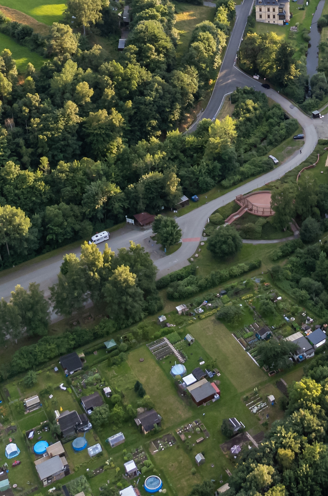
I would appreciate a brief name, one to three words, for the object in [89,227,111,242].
vehicle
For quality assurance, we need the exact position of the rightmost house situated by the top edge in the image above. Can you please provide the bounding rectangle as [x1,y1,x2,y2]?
[254,0,289,24]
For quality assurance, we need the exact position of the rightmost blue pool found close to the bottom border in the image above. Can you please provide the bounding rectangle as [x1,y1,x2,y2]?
[143,473,164,495]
